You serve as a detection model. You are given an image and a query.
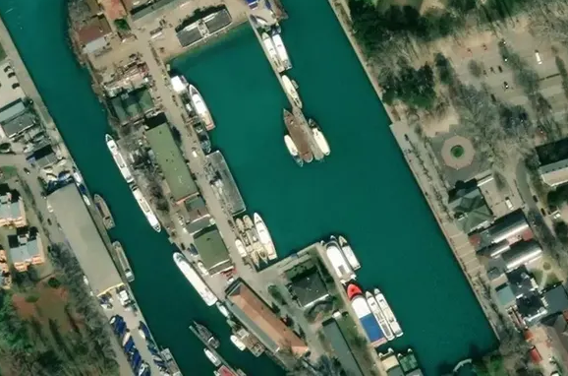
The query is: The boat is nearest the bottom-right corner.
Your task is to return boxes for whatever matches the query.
[397,347,424,376]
